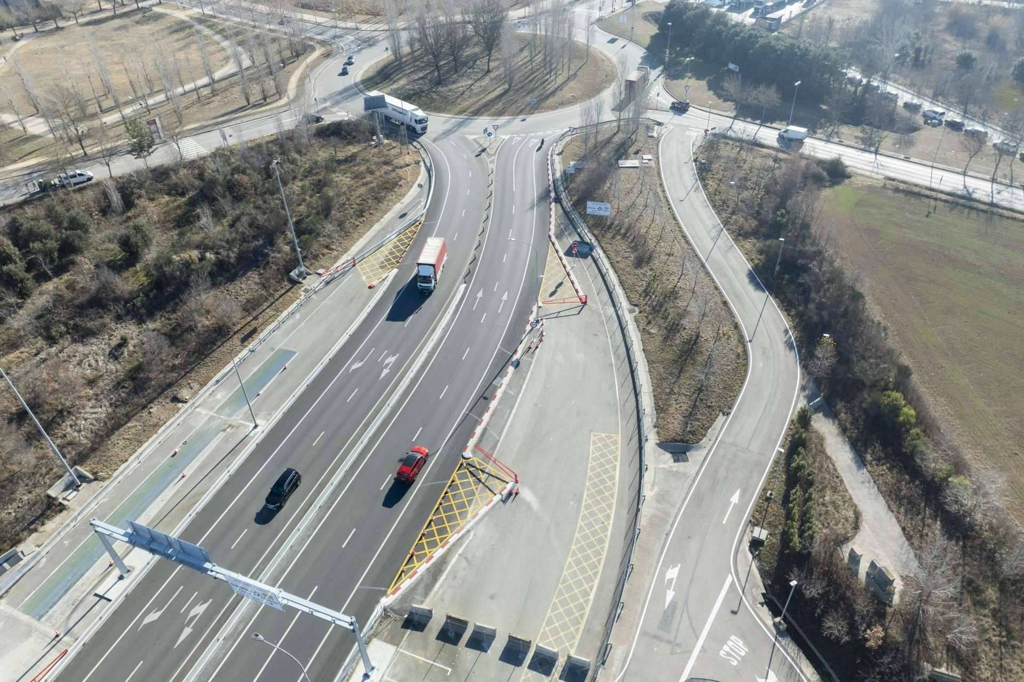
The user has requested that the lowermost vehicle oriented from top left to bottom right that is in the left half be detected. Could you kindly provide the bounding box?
[369,90,429,130]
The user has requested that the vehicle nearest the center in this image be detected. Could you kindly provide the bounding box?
[414,236,449,293]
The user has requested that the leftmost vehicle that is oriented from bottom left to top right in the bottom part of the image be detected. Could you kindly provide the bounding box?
[263,468,301,509]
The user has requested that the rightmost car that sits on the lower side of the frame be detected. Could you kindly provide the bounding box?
[393,449,425,484]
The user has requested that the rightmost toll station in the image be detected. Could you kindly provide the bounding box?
[340,148,641,682]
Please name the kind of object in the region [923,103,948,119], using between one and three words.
vehicle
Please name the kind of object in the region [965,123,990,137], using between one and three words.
car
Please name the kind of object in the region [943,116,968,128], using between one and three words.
vehicle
